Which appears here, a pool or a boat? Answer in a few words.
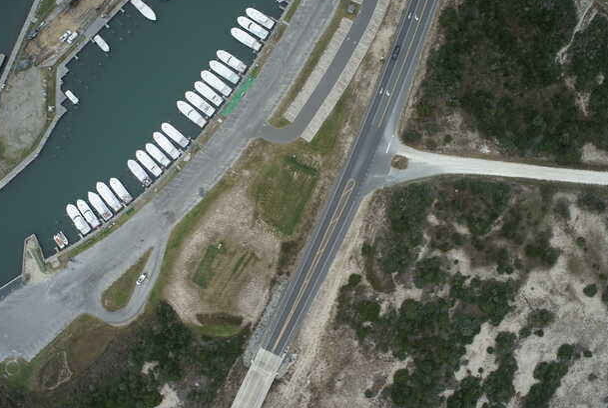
boat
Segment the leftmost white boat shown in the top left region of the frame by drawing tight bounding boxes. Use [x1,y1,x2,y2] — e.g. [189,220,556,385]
[64,89,80,105]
